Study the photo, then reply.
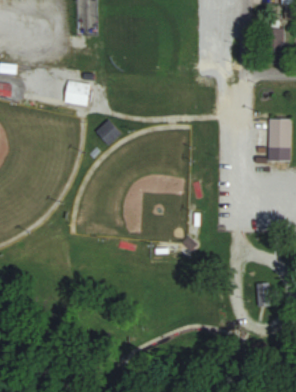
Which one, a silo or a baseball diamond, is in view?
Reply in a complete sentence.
There is a baseball diamond in the scene.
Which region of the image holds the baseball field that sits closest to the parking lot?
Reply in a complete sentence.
You can find the baseball field that sits closest to the parking lot in the center area of the picture.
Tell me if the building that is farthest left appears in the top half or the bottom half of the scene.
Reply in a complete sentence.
Seen from above, the building that is farthest left lies in the top half of the view.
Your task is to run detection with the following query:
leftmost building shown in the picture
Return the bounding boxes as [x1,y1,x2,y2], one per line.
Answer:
[66,81,92,106]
